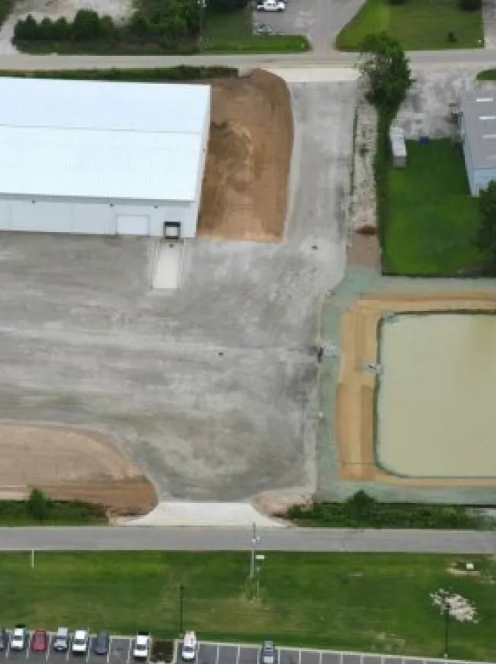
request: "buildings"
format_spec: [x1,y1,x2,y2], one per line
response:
[0,76,210,242]
[449,86,496,196]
